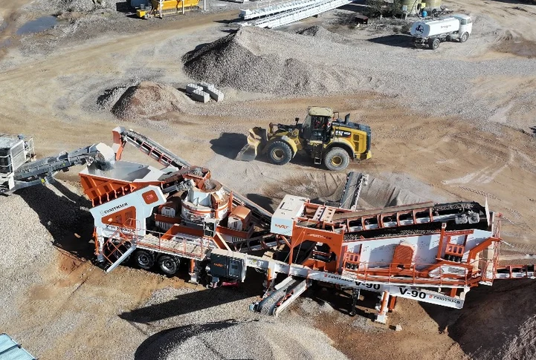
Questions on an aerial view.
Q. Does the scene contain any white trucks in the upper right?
Yes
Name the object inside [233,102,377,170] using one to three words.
work vehicle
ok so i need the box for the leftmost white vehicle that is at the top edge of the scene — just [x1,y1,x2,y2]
[410,9,473,49]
